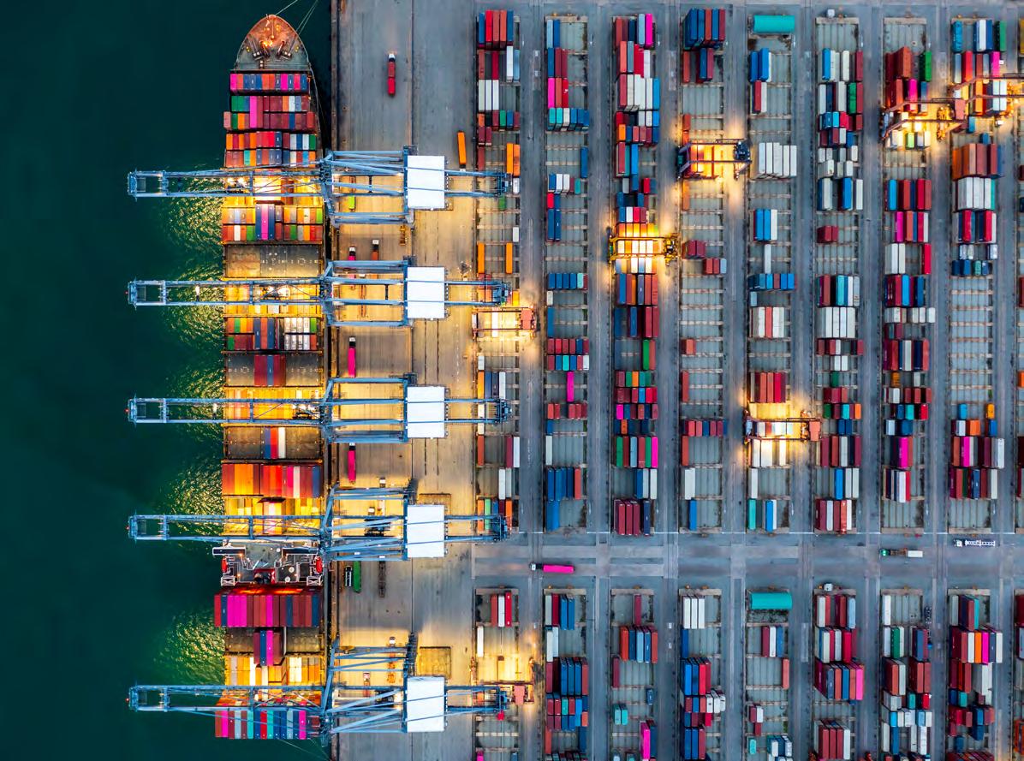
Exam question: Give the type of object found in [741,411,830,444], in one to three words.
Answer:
crane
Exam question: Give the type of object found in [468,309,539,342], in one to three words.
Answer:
crane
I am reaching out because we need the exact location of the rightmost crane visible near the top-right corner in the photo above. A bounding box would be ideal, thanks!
[946,74,1024,120]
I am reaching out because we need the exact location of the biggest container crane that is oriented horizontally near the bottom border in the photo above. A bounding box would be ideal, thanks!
[124,628,508,736]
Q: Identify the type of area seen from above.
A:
port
